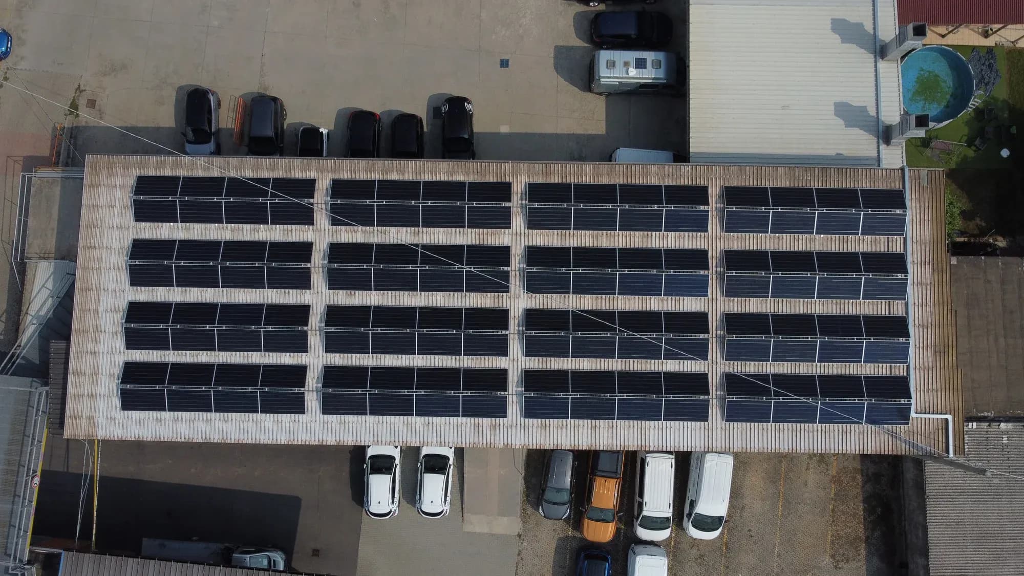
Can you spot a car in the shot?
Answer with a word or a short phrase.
Yes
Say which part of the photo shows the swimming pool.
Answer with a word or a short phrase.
top right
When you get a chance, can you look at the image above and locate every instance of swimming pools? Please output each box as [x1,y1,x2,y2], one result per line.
[902,48,977,128]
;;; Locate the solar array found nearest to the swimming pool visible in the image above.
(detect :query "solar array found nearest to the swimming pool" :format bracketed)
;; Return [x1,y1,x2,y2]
[724,185,907,239]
